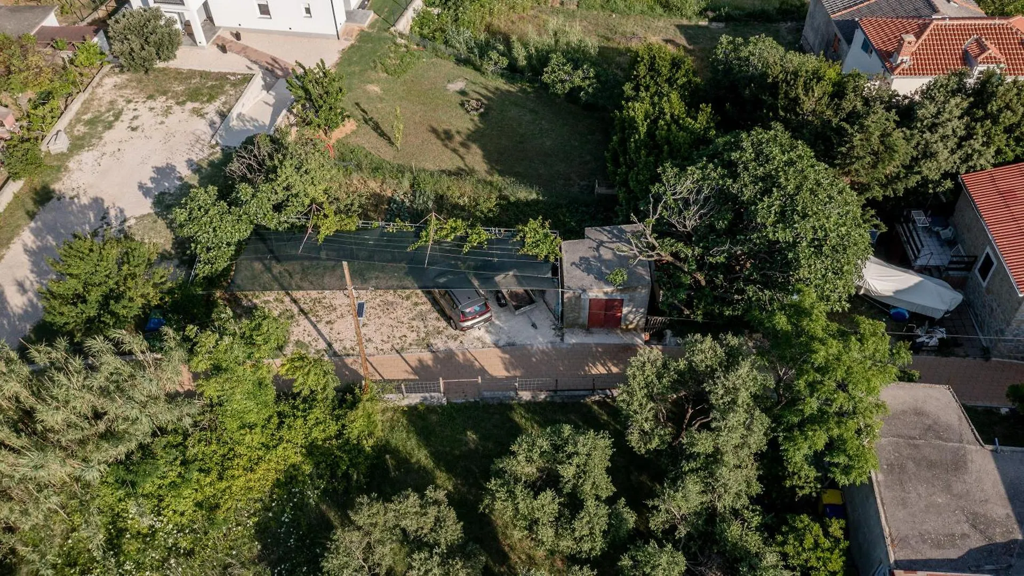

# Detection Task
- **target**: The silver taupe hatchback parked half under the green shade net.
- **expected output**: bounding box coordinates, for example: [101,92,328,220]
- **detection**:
[430,290,488,325]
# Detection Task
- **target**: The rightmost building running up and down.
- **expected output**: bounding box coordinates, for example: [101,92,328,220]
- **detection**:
[951,169,1024,343]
